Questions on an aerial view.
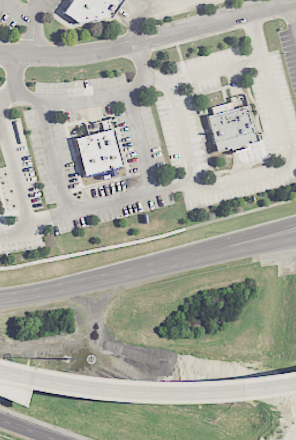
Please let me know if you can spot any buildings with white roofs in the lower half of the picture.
No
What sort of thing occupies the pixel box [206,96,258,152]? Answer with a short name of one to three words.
building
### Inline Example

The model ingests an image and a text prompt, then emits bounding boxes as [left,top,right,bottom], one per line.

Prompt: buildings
[206,96,258,152]
[62,0,124,24]
[74,130,124,180]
